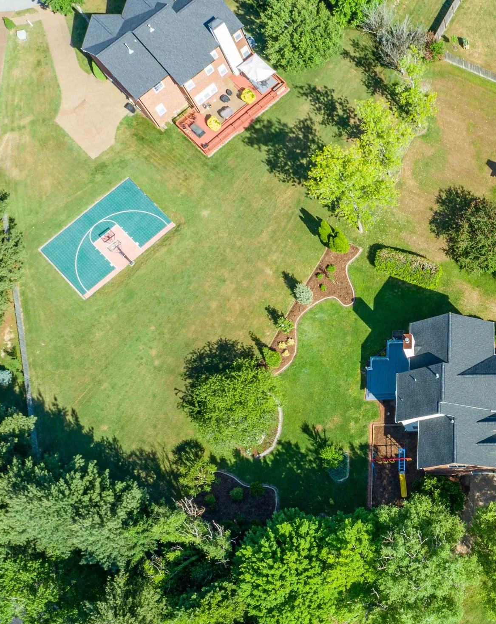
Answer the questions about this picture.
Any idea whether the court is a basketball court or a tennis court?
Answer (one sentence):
It turns out the court is a basketball court.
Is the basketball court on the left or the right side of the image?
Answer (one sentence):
The basketball court is on the left side of the image.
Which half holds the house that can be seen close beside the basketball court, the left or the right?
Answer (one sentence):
The house that can be seen close beside the basketball court appears in the left half of the scene.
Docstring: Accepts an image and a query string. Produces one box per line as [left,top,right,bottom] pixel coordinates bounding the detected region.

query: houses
[82,0,253,121]
[395,315,496,471]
